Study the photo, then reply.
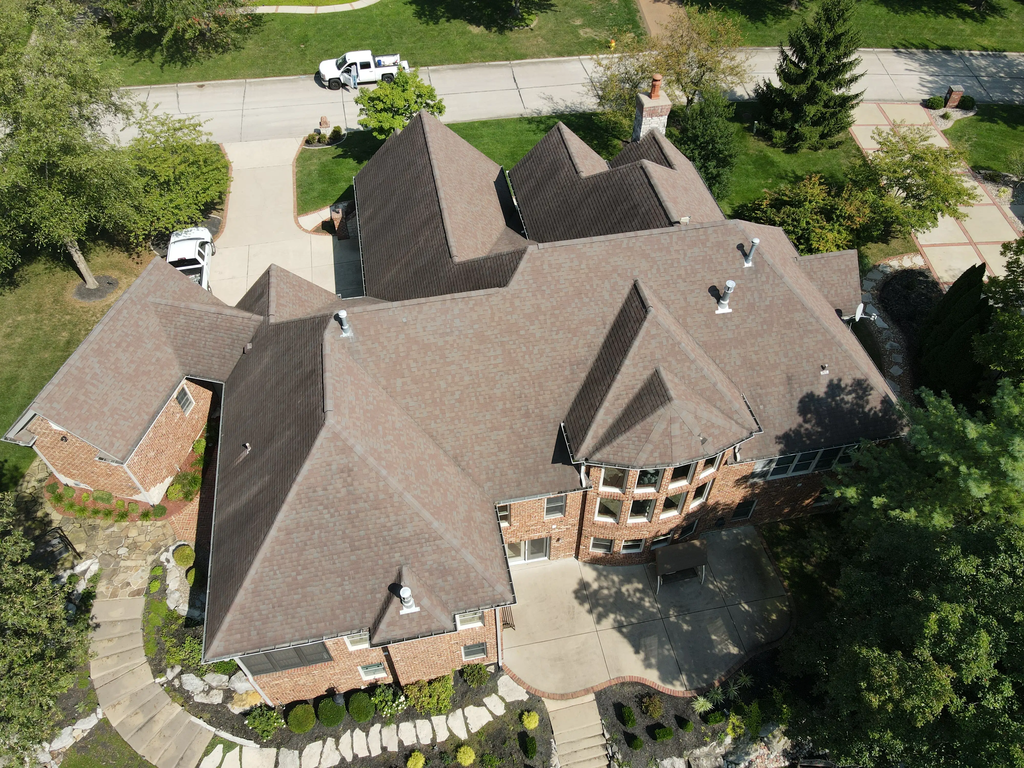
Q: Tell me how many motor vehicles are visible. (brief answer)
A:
2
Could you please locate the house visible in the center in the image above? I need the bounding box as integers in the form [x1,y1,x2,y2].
[0,75,918,707]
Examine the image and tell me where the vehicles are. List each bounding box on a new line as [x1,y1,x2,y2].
[318,48,406,89]
[161,226,215,288]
